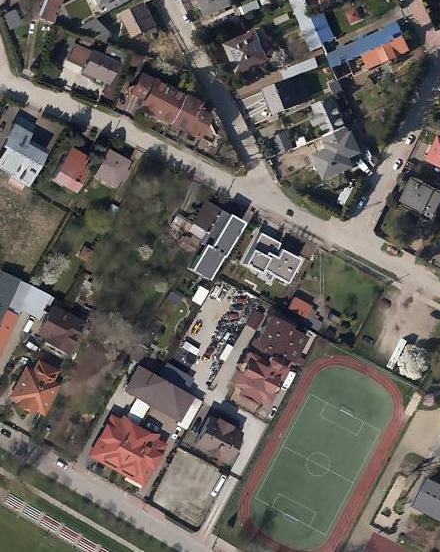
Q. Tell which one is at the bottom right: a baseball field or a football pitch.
football pitch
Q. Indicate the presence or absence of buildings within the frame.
Yes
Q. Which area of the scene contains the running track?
bottom right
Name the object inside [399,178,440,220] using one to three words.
house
